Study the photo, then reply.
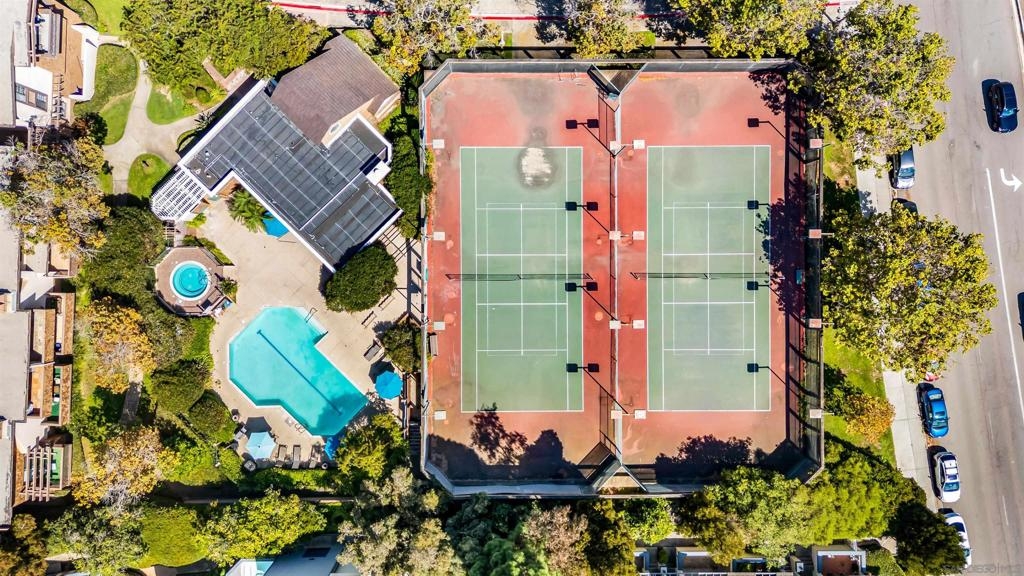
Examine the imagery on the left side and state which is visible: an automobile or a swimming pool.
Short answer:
swimming pool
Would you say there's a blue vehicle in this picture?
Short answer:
Yes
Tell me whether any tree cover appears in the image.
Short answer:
Yes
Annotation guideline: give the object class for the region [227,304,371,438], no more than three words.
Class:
swimming pool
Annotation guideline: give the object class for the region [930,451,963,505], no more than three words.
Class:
car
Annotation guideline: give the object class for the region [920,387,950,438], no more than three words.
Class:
car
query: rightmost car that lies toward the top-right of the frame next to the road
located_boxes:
[986,80,1018,134]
